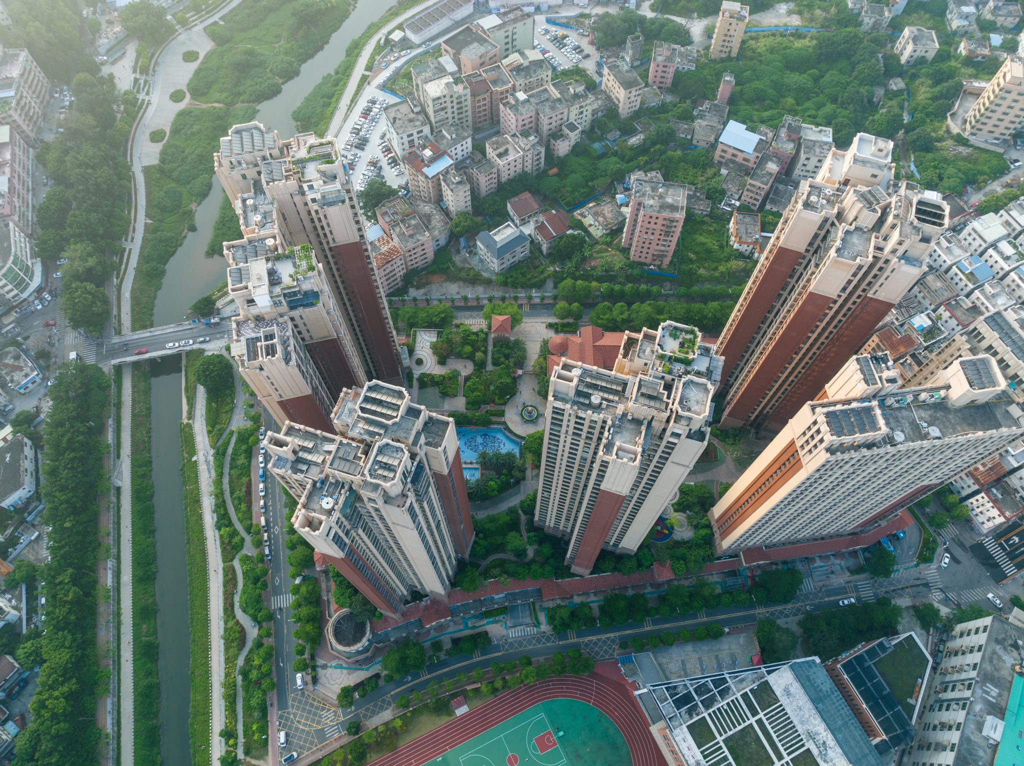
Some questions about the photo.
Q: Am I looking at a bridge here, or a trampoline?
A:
bridge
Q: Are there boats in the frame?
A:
No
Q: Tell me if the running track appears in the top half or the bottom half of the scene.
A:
bottom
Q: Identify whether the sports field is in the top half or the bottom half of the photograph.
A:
bottom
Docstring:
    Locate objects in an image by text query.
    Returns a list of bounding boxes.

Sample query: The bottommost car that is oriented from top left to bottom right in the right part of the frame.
[987,594,1002,608]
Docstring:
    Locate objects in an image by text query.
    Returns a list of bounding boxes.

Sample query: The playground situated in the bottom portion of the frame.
[646,515,677,548]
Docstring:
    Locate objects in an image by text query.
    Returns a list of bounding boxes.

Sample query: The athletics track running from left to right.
[356,671,647,766]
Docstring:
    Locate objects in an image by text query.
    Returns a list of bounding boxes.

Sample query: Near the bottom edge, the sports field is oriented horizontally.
[419,699,634,766]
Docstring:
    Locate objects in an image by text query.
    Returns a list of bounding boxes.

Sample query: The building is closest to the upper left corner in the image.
[0,45,56,139]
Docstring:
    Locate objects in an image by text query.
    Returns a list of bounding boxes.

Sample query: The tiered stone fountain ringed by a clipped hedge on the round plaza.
[519,402,542,423]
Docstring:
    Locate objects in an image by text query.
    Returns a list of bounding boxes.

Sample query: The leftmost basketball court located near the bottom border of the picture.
[453,704,574,766]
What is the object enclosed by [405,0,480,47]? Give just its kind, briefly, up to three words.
shed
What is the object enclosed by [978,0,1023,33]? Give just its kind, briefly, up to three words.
building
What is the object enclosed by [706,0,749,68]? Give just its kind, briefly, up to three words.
building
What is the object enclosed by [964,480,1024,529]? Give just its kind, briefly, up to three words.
house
